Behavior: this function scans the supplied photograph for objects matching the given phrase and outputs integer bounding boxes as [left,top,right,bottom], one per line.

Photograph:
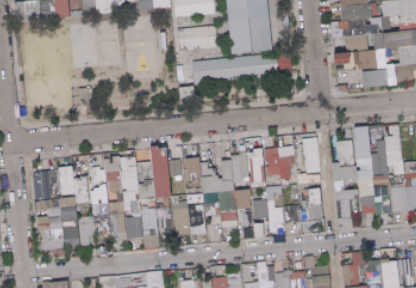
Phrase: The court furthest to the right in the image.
[126,14,160,78]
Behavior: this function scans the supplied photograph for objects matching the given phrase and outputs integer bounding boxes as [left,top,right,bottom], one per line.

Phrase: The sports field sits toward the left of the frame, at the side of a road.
[24,25,74,120]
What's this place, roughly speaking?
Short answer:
residential area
